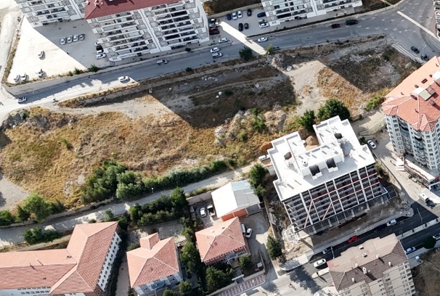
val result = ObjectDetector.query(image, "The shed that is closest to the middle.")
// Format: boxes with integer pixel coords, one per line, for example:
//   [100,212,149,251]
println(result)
[212,179,262,222]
